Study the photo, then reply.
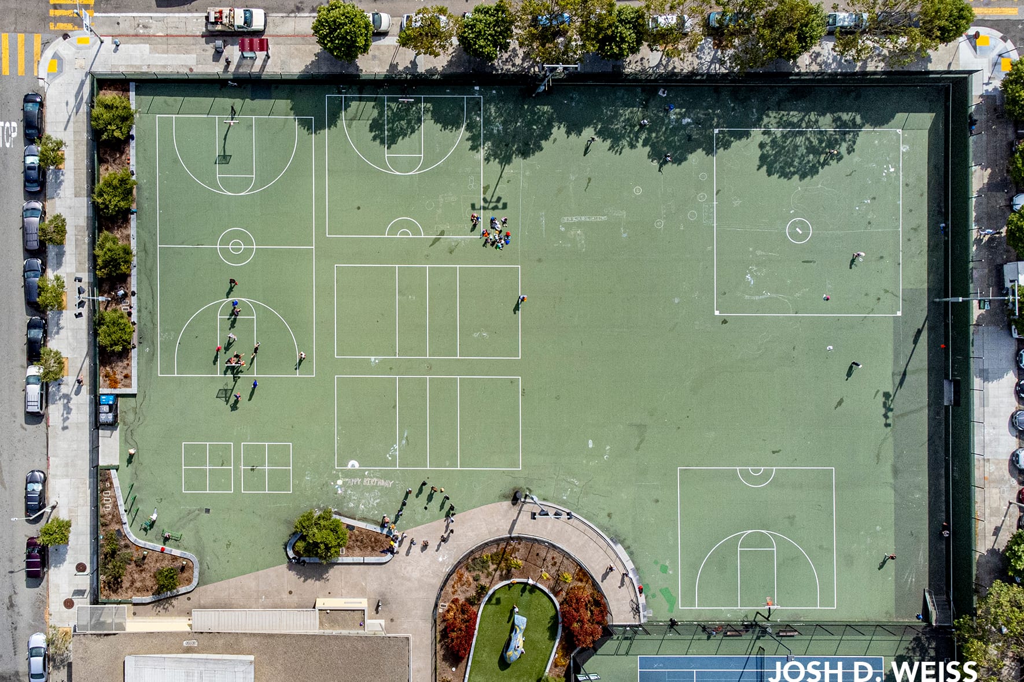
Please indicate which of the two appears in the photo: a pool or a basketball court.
basketball court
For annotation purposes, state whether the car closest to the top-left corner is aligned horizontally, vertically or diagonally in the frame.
vertically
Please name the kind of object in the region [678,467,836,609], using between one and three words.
basketball court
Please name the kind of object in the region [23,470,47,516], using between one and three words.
car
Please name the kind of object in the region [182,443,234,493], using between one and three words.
sports court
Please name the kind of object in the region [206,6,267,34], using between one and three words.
truck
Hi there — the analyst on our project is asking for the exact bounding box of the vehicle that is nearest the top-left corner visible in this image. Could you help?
[21,92,45,140]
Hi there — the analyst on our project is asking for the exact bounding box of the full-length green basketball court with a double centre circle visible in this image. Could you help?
[157,115,315,377]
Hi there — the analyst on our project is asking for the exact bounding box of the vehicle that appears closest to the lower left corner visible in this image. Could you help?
[26,634,49,682]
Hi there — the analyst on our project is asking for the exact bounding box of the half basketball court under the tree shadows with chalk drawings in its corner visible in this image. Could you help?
[326,95,483,237]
